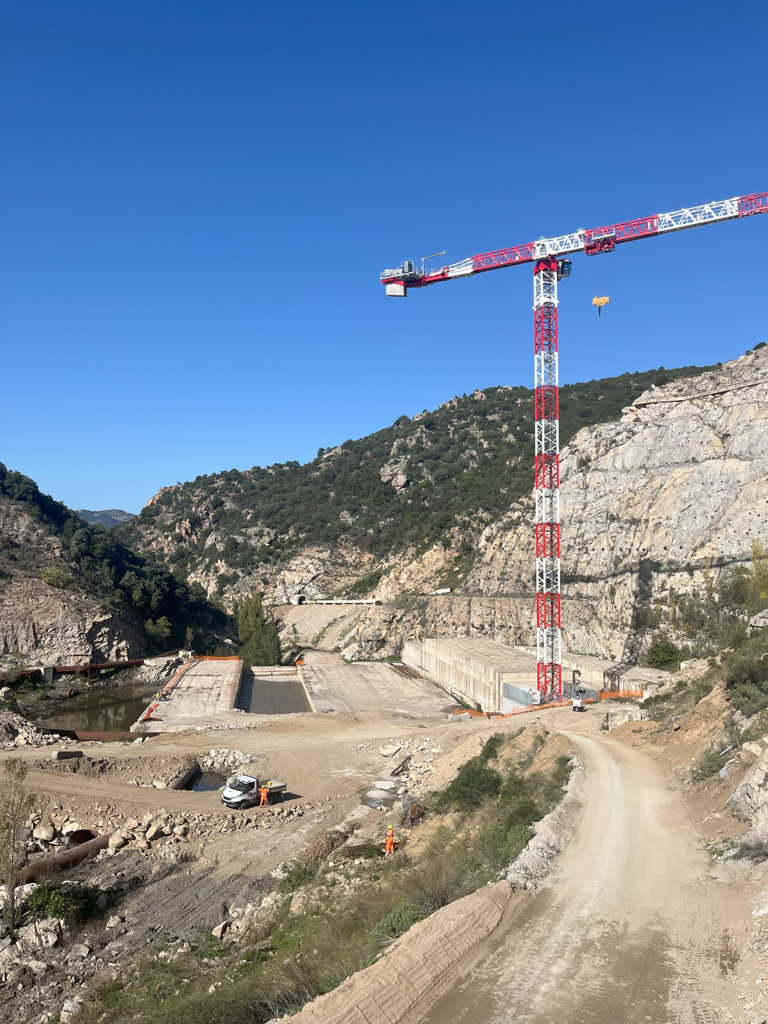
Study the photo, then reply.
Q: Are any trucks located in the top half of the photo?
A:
No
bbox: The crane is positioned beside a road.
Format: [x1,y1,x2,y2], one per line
[377,189,768,700]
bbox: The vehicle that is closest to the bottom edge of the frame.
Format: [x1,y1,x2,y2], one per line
[219,773,285,809]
